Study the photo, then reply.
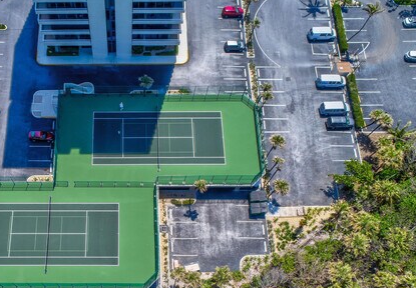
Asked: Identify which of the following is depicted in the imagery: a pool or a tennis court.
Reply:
tennis court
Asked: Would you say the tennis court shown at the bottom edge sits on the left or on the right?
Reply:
left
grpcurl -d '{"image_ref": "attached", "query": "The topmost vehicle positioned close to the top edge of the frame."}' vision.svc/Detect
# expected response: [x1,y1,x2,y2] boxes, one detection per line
[218,4,241,16]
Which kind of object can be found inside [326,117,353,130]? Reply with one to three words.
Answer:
vehicle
